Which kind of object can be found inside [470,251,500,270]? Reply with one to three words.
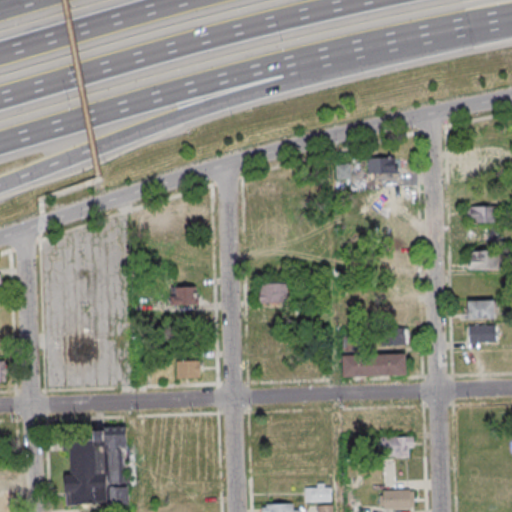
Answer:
house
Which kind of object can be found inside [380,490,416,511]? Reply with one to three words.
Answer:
house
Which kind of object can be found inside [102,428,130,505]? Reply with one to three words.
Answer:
building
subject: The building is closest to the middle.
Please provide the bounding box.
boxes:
[260,284,288,307]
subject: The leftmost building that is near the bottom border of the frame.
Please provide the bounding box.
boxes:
[63,431,106,506]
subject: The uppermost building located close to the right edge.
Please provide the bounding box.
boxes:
[469,206,494,223]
